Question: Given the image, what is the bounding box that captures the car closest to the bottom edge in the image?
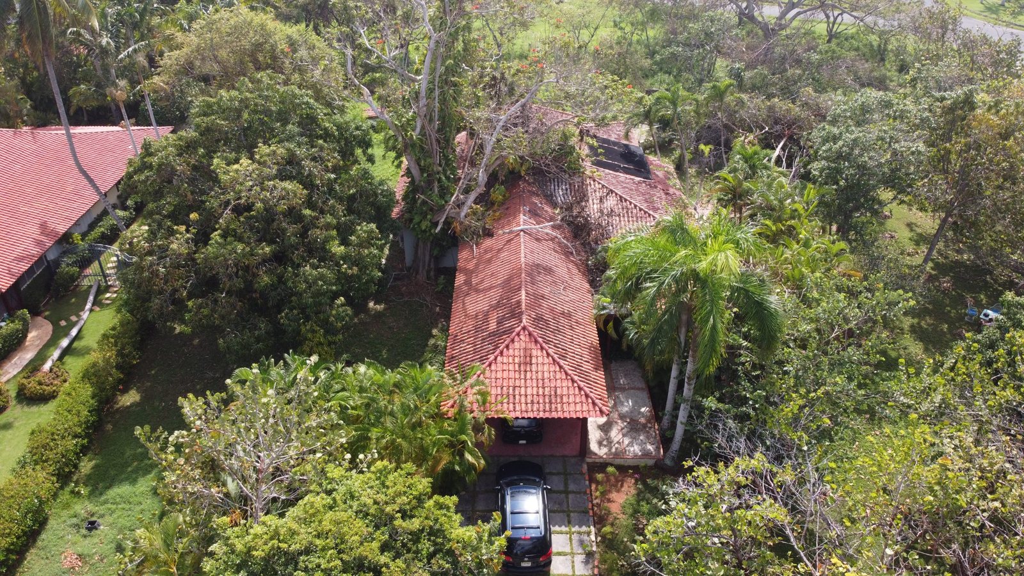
[493,455,553,574]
